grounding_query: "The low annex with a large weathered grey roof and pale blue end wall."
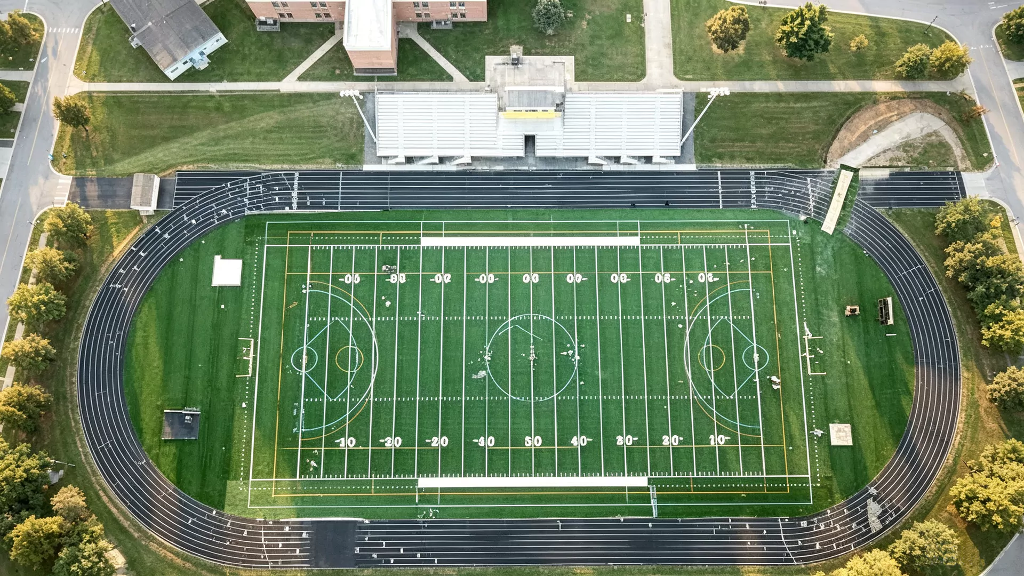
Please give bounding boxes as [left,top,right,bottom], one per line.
[105,0,228,80]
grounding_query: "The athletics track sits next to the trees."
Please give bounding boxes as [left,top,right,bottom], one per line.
[75,171,959,567]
